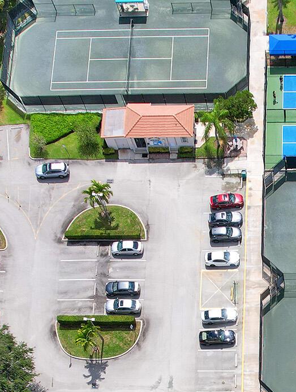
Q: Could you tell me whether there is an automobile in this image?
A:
Yes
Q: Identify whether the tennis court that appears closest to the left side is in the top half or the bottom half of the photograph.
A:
top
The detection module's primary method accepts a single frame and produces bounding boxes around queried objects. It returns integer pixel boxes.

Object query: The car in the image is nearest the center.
[110,243,143,259]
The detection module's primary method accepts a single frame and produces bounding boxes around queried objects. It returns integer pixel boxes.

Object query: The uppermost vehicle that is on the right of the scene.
[210,194,243,211]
